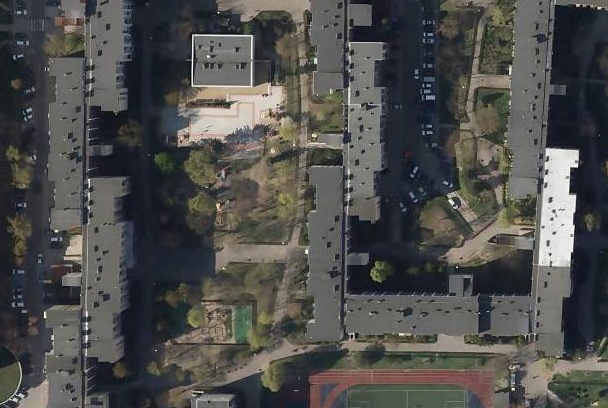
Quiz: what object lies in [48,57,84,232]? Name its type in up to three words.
building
